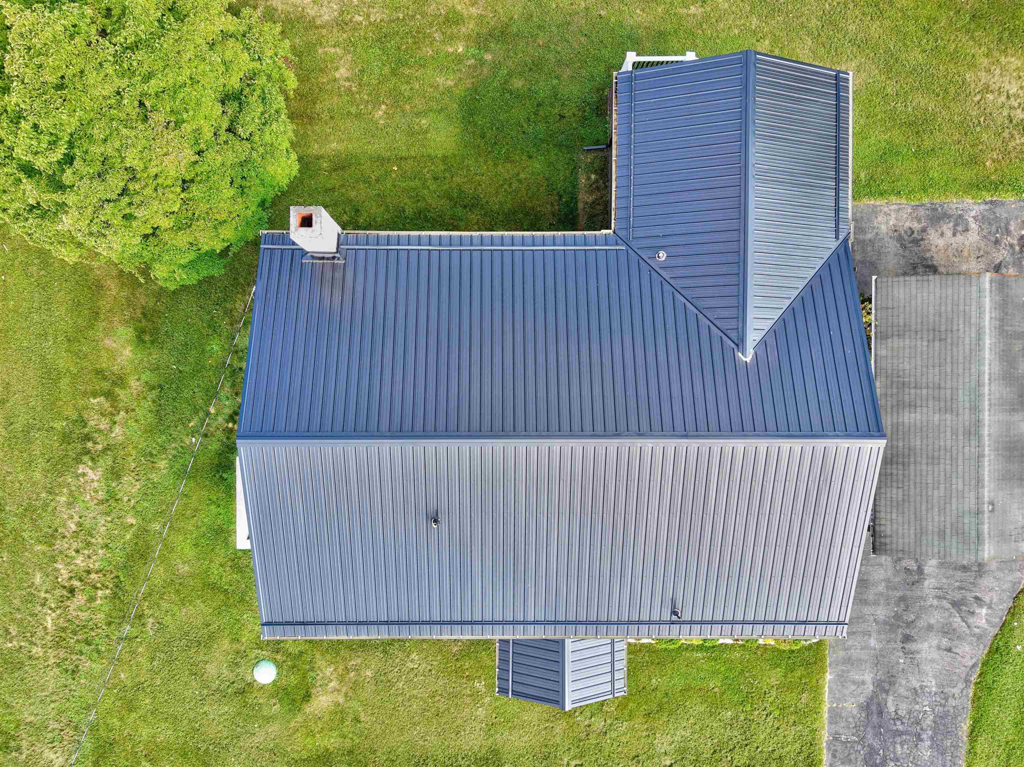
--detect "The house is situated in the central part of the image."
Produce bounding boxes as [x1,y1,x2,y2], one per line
[237,50,885,711]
